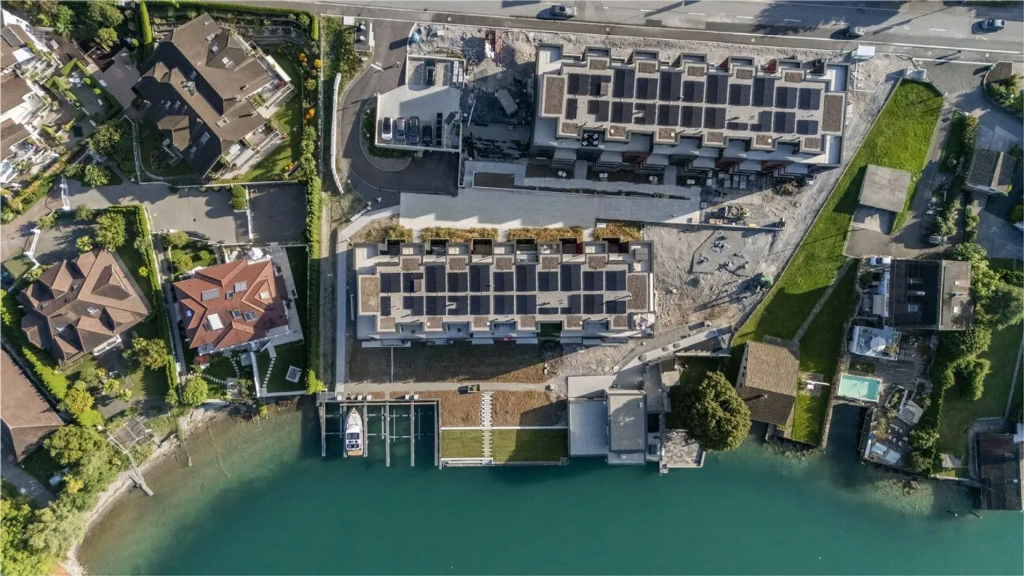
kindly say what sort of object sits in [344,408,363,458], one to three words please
boat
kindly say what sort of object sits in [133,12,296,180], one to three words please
house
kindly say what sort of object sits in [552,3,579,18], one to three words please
car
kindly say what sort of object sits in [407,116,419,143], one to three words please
vehicle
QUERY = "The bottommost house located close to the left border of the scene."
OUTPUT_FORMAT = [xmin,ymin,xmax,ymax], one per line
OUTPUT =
[0,335,71,462]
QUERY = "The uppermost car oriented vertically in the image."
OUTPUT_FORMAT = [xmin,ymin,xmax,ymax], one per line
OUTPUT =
[424,60,436,85]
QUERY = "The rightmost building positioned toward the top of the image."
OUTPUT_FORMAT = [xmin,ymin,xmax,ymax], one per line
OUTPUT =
[960,149,1015,190]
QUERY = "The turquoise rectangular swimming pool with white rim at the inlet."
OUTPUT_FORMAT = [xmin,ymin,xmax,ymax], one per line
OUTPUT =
[835,372,883,403]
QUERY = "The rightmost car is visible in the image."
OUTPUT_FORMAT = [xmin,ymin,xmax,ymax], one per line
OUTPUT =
[981,16,1010,30]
